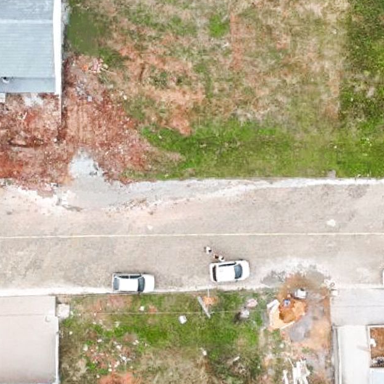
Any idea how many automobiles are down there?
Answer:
2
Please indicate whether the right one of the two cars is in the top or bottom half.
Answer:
bottom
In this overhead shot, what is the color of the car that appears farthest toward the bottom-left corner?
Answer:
white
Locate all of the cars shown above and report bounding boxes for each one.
[113,274,155,297]
[211,261,250,285]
